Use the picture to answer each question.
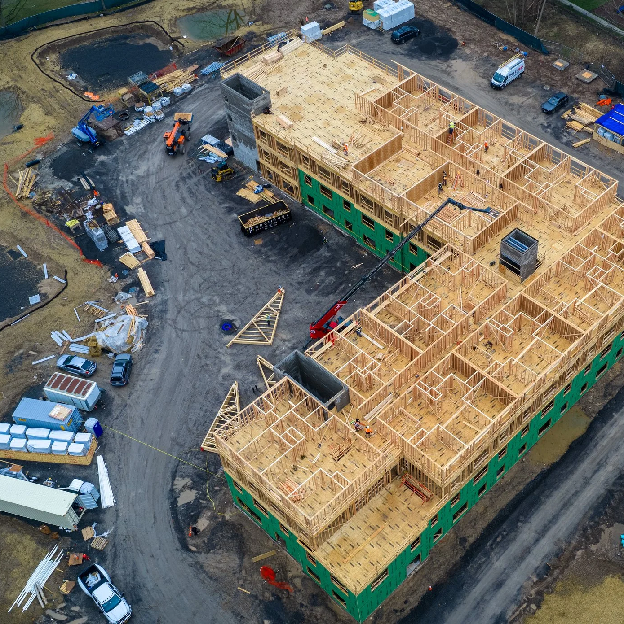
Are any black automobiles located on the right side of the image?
Yes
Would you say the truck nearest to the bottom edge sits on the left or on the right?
left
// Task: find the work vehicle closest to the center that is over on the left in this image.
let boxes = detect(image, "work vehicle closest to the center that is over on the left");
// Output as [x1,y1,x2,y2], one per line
[207,159,239,181]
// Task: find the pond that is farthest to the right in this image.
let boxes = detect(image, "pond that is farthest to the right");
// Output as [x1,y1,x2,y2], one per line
[178,9,250,43]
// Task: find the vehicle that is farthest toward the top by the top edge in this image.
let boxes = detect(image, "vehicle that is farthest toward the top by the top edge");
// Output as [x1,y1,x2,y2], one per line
[348,0,365,18]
